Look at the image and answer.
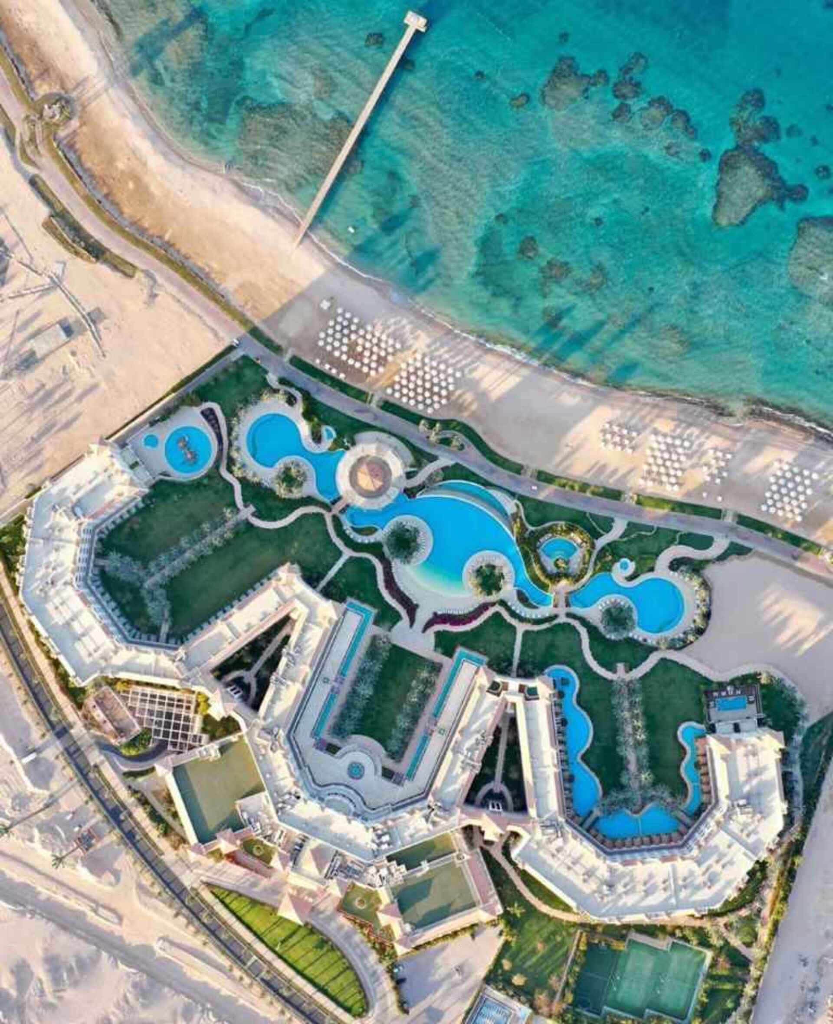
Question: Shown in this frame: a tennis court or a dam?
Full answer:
Of the two, only a tennis court appears.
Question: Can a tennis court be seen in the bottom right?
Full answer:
Yes, a tennis court shows up in the bottom right.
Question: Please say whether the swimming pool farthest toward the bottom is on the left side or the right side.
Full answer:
The swimming pool farthest toward the bottom is on the right side of the image.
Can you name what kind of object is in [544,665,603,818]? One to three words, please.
swimming pool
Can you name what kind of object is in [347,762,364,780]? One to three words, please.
fountain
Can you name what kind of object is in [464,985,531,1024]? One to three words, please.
building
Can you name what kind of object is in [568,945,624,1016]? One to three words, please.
sports court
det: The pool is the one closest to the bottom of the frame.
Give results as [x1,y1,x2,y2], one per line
[592,802,681,838]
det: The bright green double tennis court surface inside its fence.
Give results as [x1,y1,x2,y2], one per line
[606,939,710,1019]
